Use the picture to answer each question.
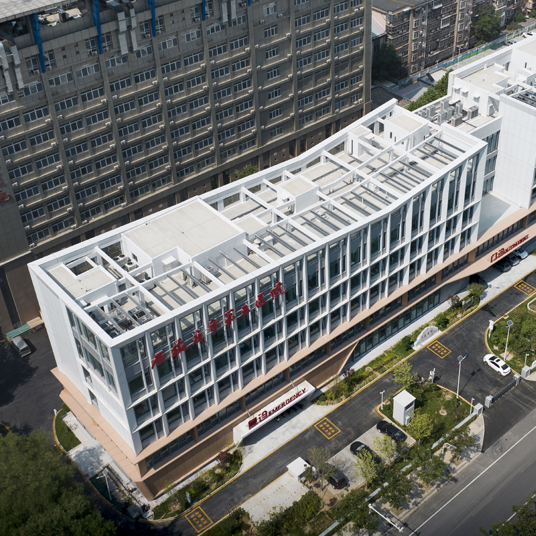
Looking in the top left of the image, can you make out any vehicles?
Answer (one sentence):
No, in the top left of the image there is no vehicle.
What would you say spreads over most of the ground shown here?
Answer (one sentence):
For the most part, this view shows buildings.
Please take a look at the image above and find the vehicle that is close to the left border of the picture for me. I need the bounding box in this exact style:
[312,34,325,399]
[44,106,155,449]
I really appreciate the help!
[8,331,34,360]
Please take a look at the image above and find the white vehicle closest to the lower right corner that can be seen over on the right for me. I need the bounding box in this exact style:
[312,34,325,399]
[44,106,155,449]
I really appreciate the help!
[481,357,513,378]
